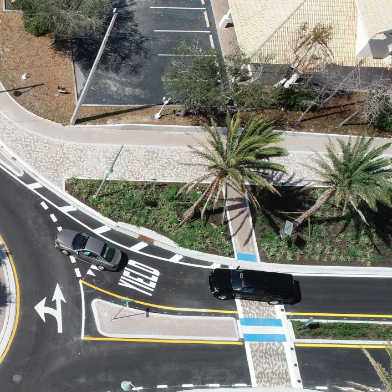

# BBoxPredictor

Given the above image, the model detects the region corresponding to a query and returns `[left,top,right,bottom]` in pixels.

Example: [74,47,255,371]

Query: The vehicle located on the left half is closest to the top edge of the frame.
[55,229,122,271]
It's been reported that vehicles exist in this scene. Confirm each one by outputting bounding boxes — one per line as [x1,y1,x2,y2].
[55,229,122,271]
[207,266,294,305]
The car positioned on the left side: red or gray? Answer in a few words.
gray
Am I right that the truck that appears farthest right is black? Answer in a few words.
Yes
